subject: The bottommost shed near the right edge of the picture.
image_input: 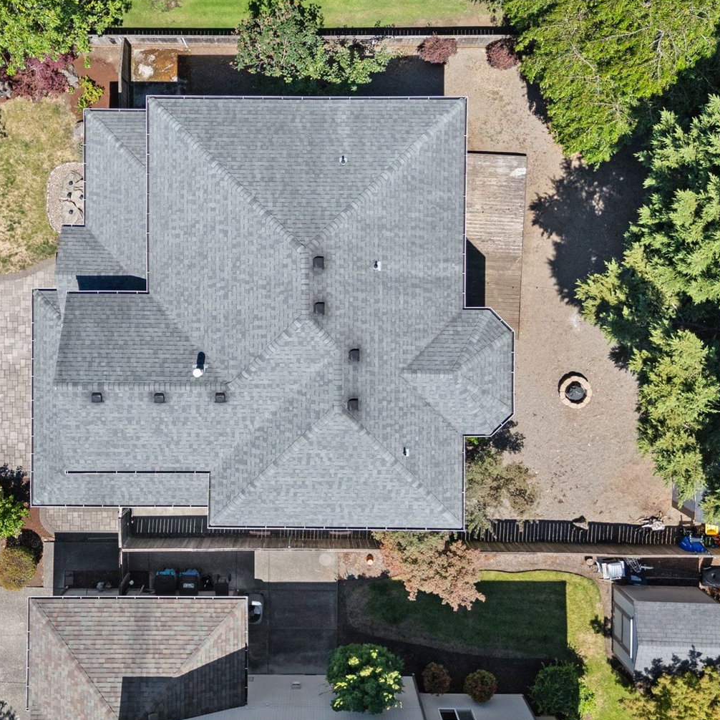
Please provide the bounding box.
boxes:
[612,586,720,675]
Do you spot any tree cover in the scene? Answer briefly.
Yes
